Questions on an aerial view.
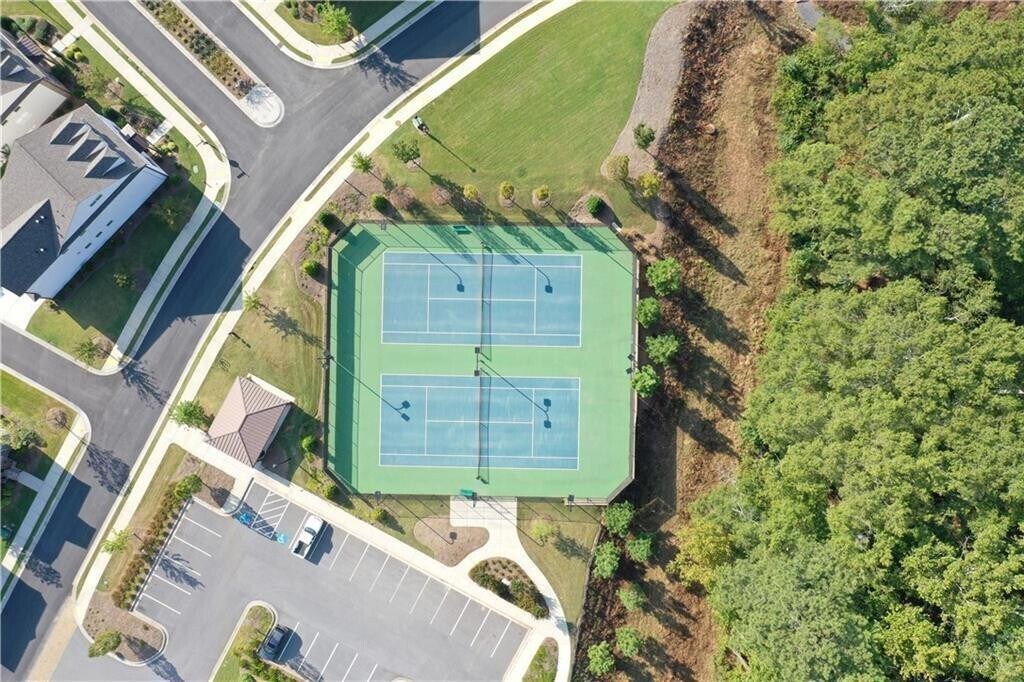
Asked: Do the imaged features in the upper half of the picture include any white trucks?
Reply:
No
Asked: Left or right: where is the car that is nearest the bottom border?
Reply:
left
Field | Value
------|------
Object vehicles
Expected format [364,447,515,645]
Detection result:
[290,512,326,563]
[261,623,291,662]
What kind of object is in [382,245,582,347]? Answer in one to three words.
tennis court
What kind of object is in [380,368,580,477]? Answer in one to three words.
tennis court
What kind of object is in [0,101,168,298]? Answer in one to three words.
house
